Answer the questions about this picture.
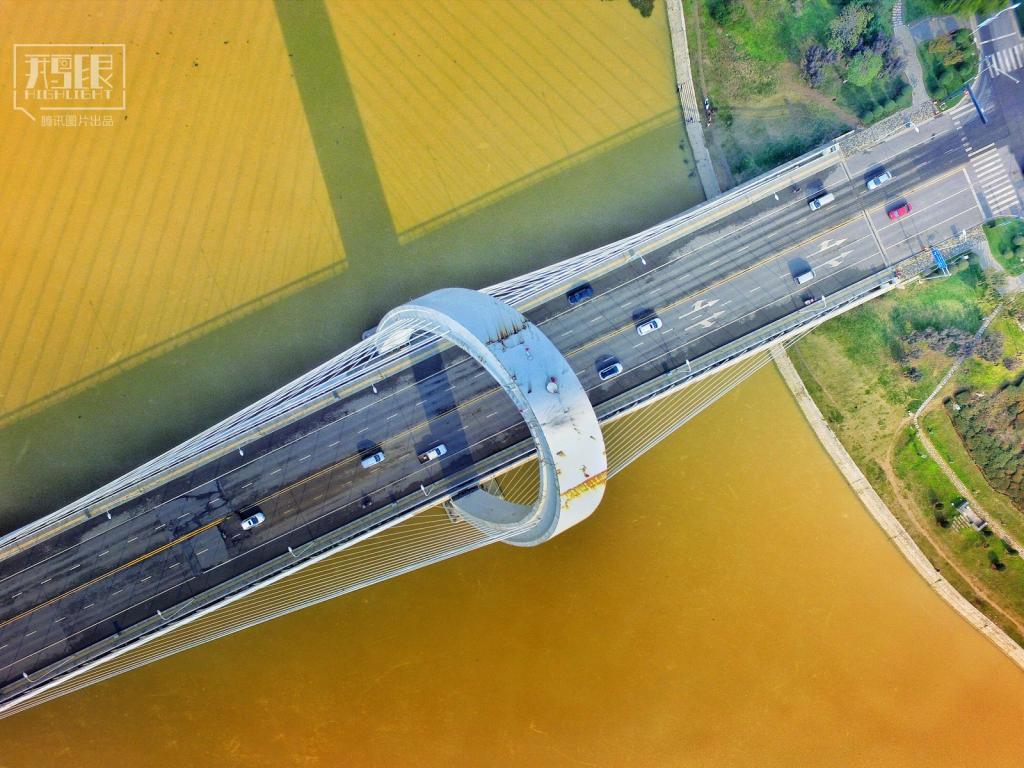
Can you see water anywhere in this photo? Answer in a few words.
Yes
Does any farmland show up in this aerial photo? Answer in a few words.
No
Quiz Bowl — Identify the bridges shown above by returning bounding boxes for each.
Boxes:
[0,134,917,713]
